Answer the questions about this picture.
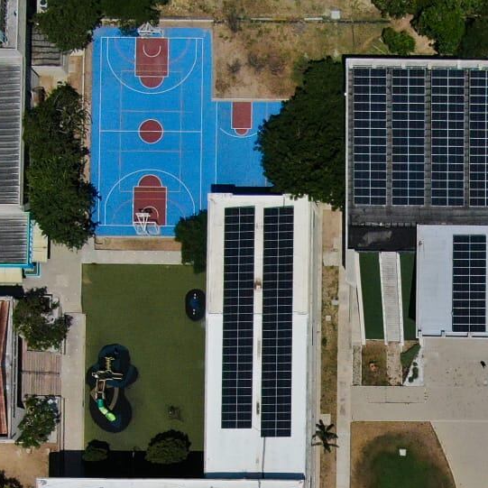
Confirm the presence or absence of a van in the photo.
No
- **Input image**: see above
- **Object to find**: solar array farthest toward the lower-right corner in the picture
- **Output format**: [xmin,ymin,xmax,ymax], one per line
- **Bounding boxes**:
[452,234,486,331]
